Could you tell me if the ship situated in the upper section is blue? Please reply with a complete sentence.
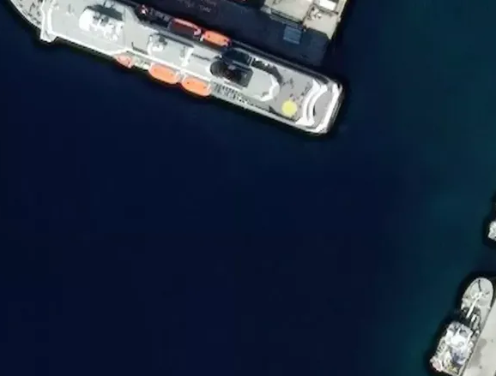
No, the ship situated in the upper section is actually white.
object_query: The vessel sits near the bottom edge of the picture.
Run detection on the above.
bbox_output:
[432,276,492,376]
